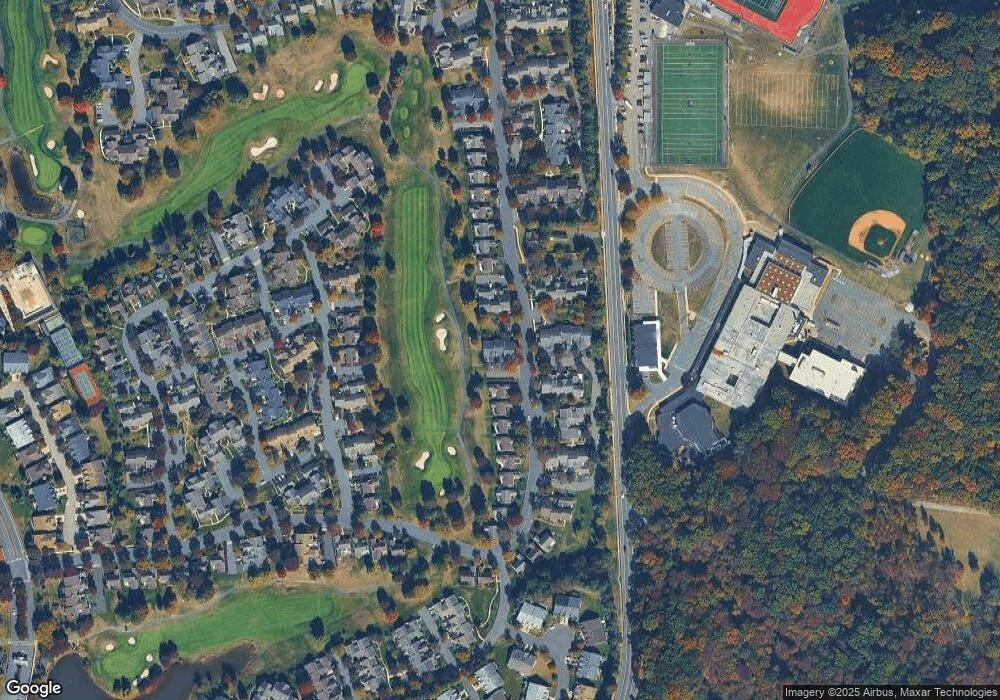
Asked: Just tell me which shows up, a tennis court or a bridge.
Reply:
tennis court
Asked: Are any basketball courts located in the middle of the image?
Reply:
No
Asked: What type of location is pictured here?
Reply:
residential area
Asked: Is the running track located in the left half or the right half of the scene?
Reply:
right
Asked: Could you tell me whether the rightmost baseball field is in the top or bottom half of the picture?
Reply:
top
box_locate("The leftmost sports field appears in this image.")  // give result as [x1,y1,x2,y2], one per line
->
[650,37,729,168]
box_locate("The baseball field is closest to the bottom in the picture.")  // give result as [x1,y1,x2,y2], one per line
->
[789,130,925,266]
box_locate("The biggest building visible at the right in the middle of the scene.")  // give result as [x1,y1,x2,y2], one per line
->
[696,236,830,407]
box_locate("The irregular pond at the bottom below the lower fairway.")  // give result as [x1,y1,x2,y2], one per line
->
[144,641,253,700]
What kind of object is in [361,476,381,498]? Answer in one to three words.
house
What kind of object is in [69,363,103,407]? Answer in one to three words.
basketball court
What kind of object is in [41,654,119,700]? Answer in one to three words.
pond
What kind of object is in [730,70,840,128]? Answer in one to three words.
sports field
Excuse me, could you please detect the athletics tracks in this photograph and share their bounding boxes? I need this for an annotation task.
[712,0,822,43]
